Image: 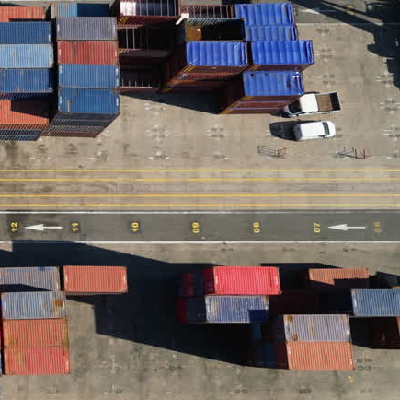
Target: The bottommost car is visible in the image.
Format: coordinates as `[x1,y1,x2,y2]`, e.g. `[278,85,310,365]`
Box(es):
[293,121,333,141]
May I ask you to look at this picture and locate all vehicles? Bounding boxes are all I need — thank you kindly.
[293,121,333,141]
[283,92,341,118]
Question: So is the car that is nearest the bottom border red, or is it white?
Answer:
white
